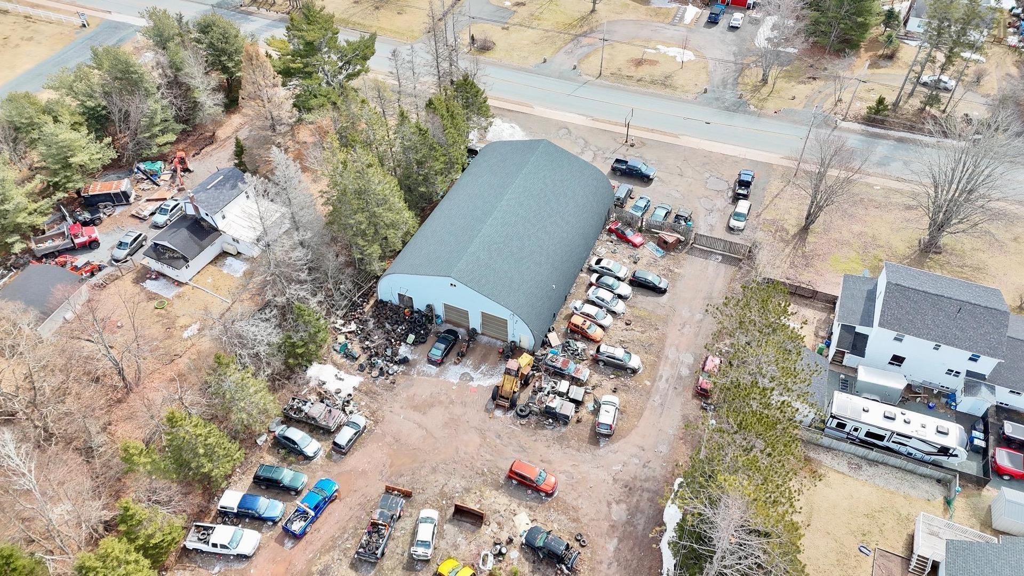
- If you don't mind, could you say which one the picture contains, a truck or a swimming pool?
truck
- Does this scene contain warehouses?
Yes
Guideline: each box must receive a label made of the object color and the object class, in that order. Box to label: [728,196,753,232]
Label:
white car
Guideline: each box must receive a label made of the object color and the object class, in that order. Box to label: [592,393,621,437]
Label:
white car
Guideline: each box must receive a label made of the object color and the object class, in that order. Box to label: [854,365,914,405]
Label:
white trailer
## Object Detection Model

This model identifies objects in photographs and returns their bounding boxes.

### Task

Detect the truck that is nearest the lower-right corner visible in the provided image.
[992,450,1024,479]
